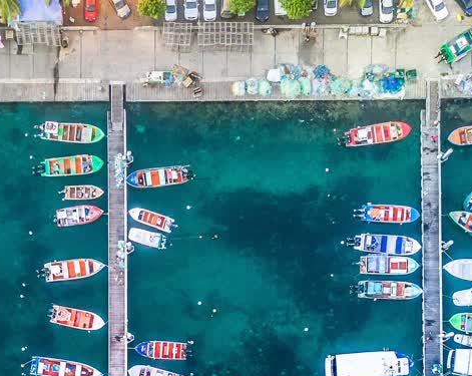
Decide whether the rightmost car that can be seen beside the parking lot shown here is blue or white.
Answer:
white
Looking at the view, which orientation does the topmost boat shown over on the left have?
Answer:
from side to side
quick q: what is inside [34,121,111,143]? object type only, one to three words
boat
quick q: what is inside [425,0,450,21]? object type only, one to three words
car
